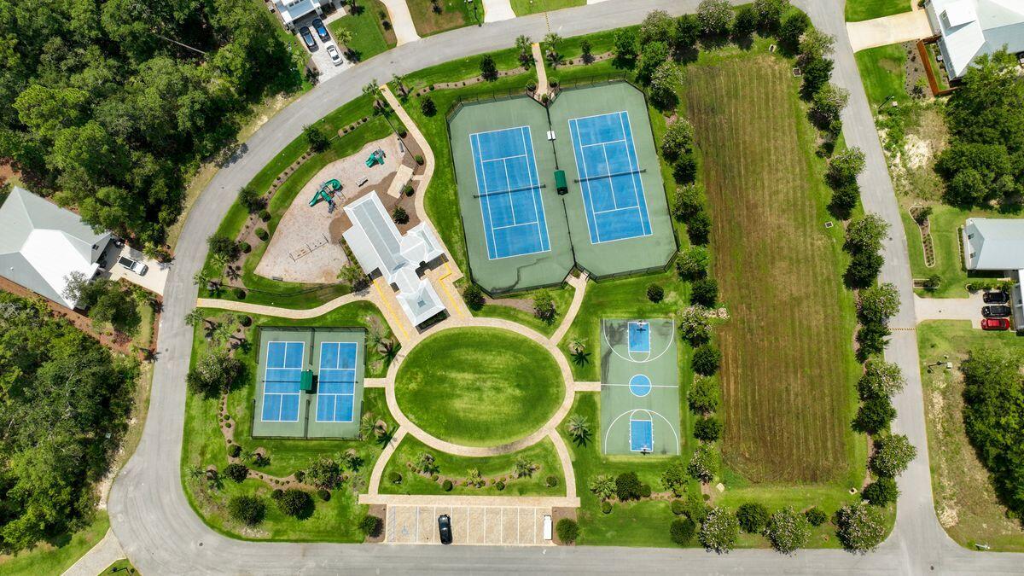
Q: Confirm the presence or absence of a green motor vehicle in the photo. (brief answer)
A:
No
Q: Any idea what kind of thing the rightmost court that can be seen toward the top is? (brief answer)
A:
tennis court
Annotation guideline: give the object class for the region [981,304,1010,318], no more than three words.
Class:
car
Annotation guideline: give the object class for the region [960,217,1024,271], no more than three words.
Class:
house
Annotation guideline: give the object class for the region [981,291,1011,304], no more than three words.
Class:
vehicle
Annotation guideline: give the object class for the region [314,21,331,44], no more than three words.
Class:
car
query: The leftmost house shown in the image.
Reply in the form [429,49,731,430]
[0,186,116,308]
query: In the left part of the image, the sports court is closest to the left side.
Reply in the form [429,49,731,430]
[253,329,312,438]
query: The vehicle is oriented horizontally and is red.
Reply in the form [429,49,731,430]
[981,318,1008,330]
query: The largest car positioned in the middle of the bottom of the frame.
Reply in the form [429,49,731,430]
[437,513,452,546]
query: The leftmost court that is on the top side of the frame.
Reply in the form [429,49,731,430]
[449,97,576,296]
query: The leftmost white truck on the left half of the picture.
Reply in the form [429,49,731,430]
[116,254,152,276]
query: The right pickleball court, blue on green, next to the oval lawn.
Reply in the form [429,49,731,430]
[306,329,365,439]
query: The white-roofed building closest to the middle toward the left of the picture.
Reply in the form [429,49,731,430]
[342,191,446,327]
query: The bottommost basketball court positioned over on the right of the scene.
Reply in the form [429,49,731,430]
[601,319,681,455]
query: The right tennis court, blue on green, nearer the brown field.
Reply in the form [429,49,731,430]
[547,82,678,280]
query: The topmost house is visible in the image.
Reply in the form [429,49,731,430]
[272,0,330,31]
